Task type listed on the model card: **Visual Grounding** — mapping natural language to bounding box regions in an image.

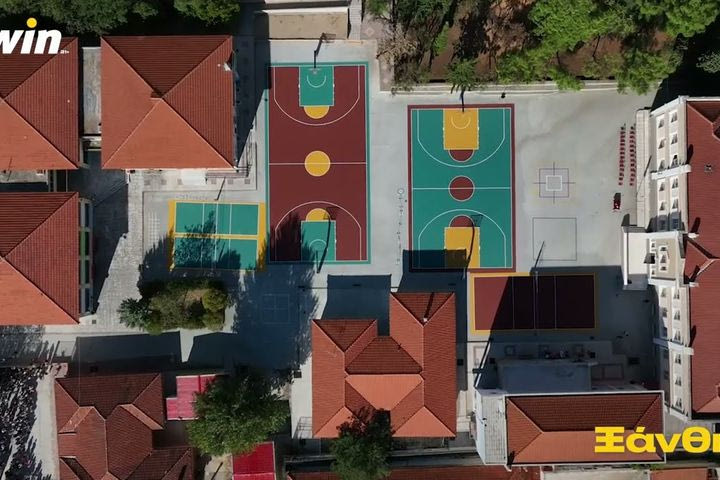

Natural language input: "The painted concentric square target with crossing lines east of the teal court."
[533,162,574,204]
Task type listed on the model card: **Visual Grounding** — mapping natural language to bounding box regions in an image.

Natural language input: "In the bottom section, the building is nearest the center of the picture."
[311,292,456,437]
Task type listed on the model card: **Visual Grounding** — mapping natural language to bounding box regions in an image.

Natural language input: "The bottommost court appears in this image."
[468,273,598,335]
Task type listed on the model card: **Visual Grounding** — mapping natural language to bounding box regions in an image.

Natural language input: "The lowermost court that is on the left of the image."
[169,200,265,272]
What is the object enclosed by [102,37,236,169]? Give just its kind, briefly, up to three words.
building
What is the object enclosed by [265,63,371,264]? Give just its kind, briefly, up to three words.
basketball court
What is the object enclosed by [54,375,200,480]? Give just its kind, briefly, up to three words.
house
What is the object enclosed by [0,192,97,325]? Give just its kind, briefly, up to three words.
building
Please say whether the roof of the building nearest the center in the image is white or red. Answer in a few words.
red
